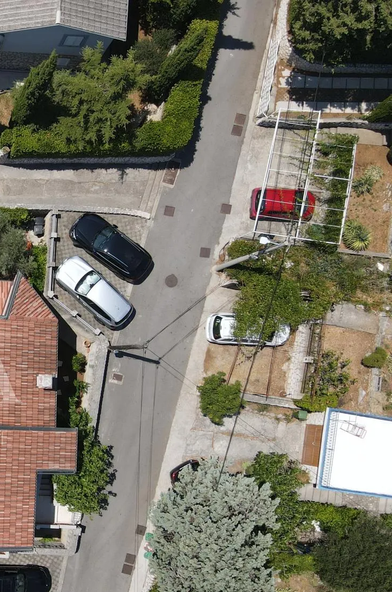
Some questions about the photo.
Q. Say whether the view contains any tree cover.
Yes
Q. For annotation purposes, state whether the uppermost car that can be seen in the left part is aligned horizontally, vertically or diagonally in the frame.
diagonally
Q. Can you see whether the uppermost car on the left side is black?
Yes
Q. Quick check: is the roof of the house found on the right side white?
Yes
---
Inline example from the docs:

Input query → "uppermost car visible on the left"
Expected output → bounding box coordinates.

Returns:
[66,210,159,286]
